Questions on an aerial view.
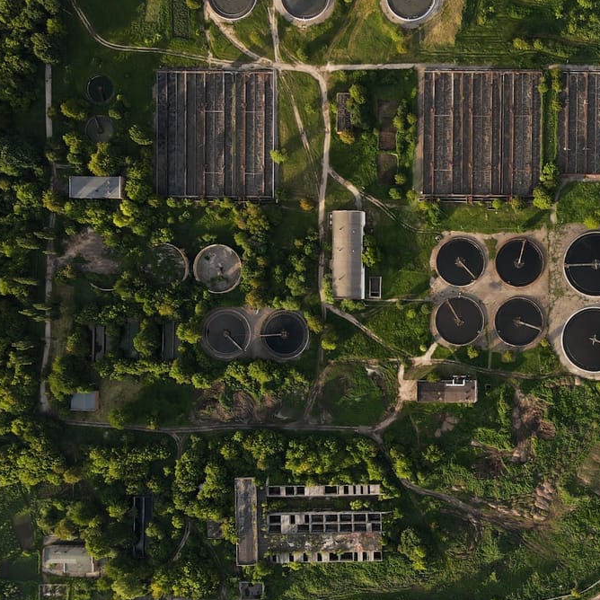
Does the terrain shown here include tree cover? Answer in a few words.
Yes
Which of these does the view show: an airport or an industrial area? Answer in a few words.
industrial area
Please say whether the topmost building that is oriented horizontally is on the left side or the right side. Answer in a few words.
left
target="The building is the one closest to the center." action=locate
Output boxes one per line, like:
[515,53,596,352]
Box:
[331,211,364,299]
